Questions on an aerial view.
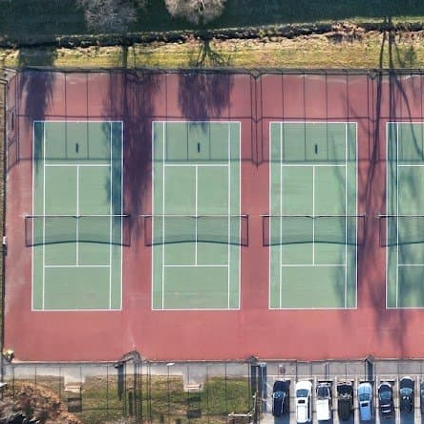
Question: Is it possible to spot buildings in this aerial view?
No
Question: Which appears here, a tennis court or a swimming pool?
tennis court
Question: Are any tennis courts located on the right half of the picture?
Yes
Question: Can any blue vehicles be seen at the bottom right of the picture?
Yes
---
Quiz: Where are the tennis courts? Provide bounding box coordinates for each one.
[386,122,424,311]
[270,122,357,311]
[152,122,241,311]
[34,122,122,311]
